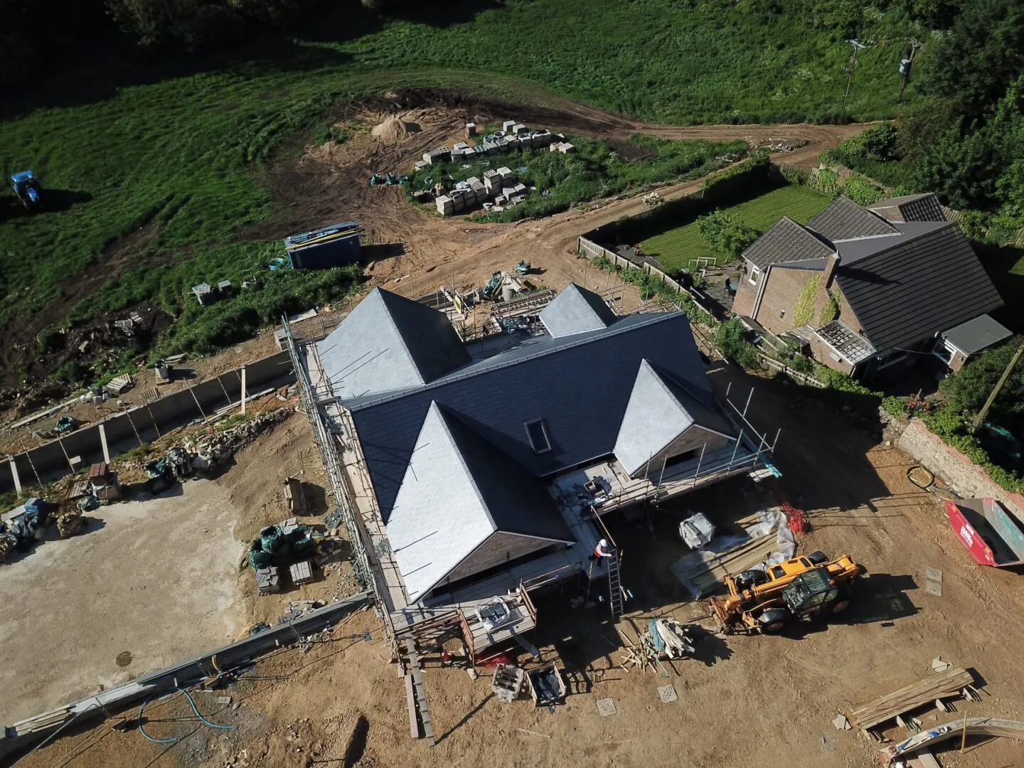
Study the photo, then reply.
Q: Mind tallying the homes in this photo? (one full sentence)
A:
Altogether the scene contains 2 homes.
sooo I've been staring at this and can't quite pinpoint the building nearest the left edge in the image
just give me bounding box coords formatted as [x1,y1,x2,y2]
[317,281,739,626]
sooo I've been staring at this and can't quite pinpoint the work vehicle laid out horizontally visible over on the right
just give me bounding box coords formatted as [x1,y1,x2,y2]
[694,556,866,641]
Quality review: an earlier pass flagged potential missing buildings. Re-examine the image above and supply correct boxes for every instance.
[737,193,1014,411]
[317,281,739,626]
